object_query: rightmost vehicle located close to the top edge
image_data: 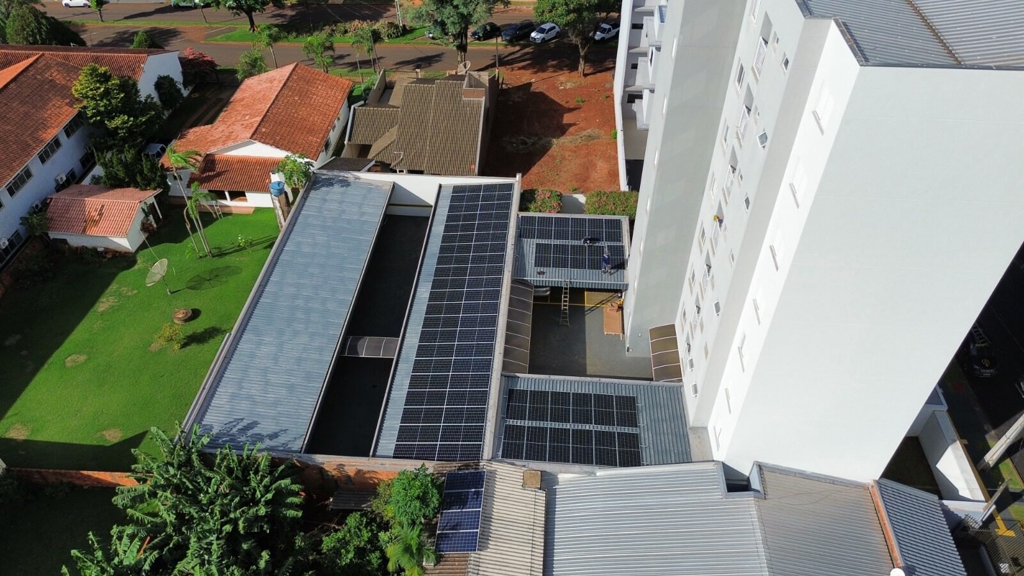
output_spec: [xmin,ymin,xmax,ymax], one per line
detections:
[591,22,622,44]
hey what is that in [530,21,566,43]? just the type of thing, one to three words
car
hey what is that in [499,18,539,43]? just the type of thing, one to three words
car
